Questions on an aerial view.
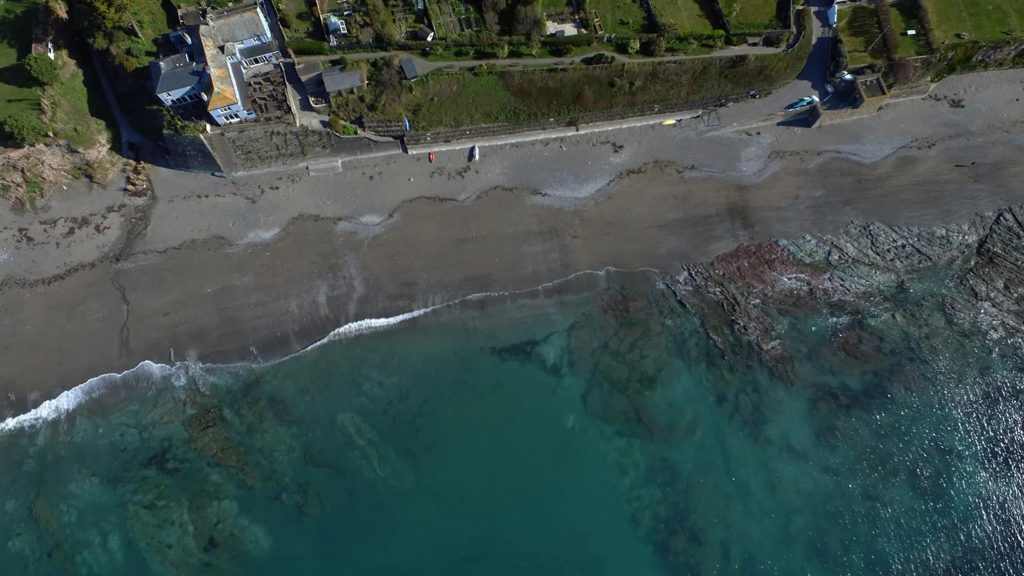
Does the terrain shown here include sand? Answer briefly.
Yes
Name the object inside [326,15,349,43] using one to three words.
house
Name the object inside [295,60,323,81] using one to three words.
building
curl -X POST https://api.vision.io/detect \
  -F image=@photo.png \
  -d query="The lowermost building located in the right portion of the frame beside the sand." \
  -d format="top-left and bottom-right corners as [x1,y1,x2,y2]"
[848,76,891,111]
